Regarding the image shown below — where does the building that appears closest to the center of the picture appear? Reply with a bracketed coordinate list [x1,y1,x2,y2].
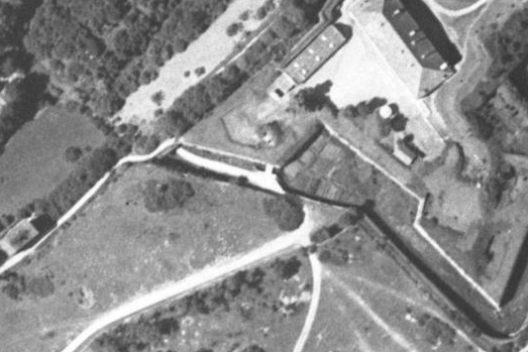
[270,73,296,99]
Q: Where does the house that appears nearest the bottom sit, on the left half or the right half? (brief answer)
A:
left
